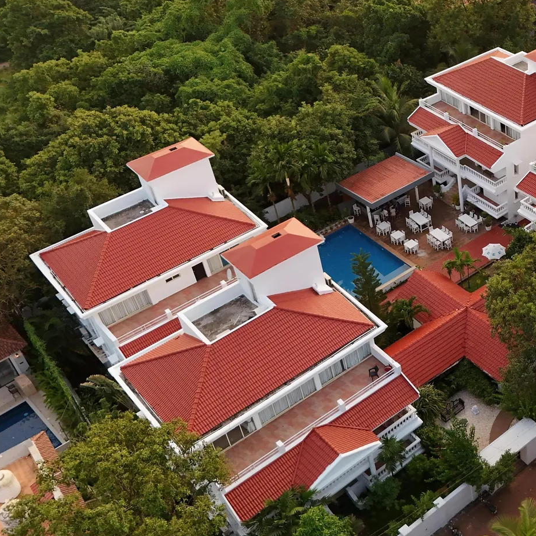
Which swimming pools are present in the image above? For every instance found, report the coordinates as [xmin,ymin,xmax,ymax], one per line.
[319,224,408,298]
[0,405,44,448]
